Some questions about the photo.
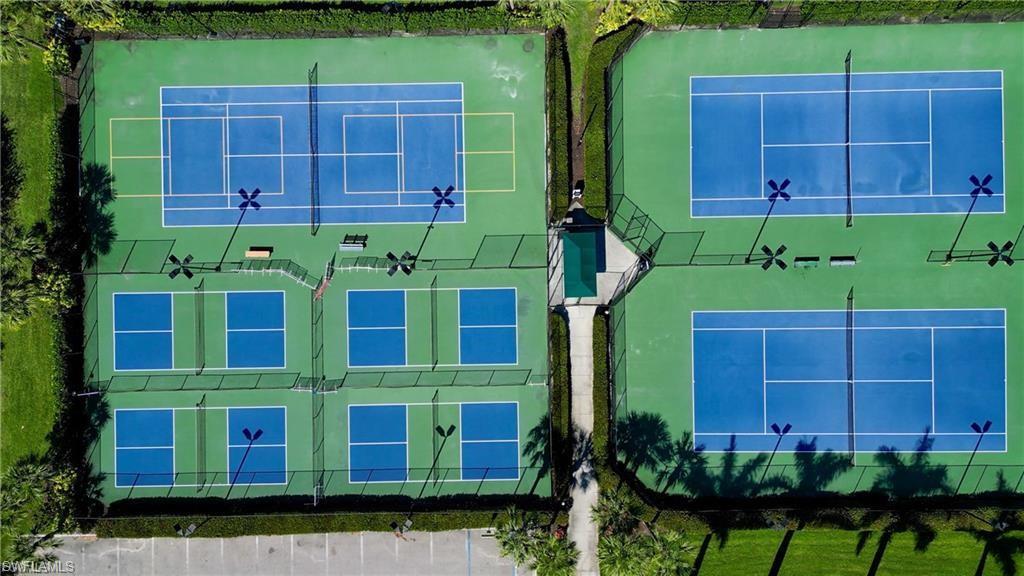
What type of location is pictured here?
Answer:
sports ground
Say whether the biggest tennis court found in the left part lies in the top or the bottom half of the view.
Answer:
top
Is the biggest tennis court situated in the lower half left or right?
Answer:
right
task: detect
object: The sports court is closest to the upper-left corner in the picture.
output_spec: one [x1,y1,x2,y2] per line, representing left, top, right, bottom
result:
[110,116,283,198]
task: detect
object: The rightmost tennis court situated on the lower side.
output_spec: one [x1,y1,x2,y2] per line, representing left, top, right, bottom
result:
[692,308,1007,452]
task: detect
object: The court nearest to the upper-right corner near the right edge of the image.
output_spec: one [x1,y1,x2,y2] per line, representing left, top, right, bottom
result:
[690,70,1005,218]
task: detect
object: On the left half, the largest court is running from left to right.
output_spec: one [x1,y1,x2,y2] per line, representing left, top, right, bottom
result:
[160,82,466,227]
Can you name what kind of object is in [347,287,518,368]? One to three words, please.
sports court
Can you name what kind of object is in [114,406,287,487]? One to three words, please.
sports court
